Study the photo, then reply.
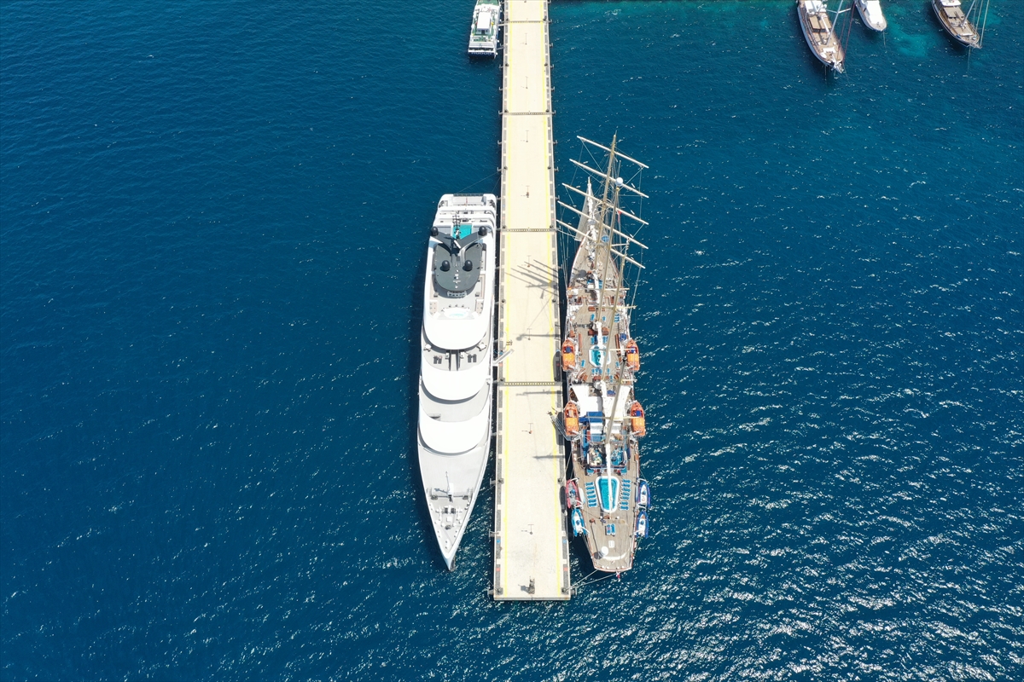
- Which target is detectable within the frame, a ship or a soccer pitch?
ship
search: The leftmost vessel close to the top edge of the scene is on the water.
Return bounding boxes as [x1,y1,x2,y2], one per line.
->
[469,0,499,61]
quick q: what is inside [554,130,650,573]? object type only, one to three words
ship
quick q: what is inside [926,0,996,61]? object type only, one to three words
boat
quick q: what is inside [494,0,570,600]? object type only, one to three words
pier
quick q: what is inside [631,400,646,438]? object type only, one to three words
boat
